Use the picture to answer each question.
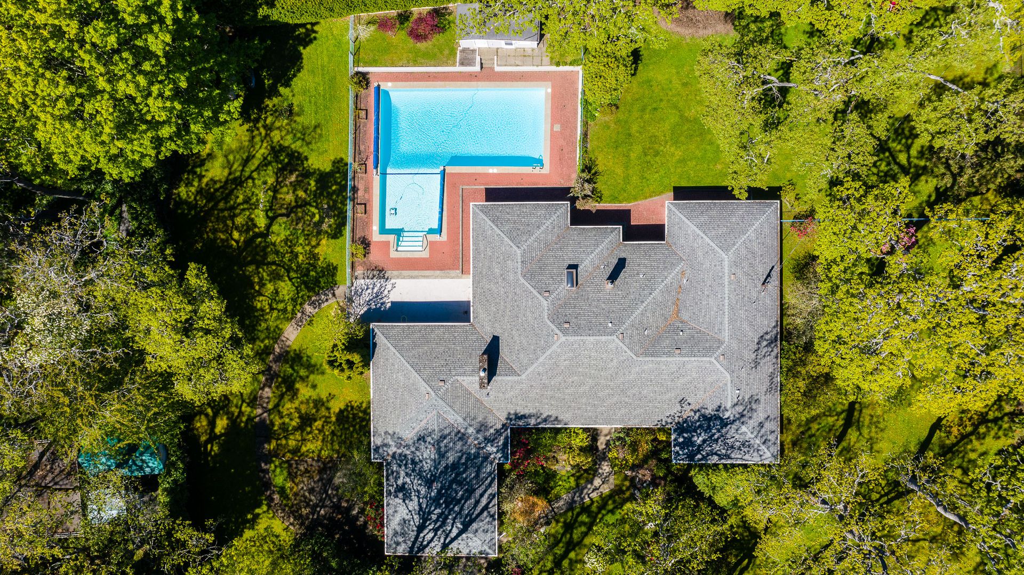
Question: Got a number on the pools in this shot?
1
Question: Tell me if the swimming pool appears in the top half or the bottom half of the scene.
top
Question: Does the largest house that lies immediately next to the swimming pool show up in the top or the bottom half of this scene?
bottom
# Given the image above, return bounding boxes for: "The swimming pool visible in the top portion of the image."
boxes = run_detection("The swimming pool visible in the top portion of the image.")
[373,82,551,257]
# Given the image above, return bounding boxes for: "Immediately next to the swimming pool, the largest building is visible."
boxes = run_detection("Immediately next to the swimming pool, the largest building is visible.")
[369,199,781,557]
